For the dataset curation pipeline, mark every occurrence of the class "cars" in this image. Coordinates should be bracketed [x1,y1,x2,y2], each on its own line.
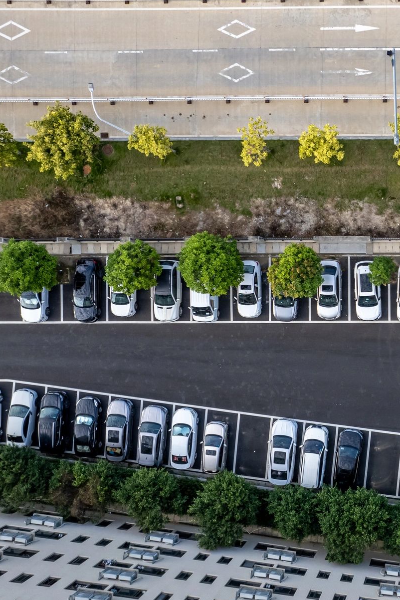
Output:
[136,404,171,468]
[314,258,344,320]
[201,419,230,474]
[270,287,299,322]
[36,390,73,454]
[6,387,42,449]
[106,283,139,318]
[168,407,201,470]
[102,398,136,462]
[17,285,51,323]
[234,259,265,318]
[300,423,330,490]
[149,259,183,322]
[268,416,299,486]
[352,260,382,321]
[333,427,364,488]
[70,396,104,457]
[69,260,103,323]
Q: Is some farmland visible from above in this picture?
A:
No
